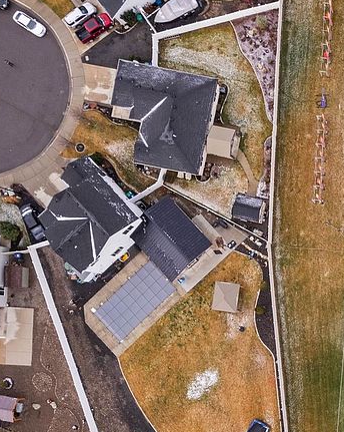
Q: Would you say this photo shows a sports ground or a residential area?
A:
residential area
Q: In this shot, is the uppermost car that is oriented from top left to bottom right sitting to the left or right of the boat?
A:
on the left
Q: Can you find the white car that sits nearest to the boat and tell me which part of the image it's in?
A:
top left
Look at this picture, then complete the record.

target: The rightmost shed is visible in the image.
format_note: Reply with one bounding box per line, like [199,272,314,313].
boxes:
[231,193,267,224]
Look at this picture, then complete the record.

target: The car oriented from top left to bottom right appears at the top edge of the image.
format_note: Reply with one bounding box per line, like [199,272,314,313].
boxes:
[9,7,43,35]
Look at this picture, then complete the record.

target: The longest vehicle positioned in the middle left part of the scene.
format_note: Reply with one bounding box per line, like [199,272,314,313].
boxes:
[17,204,46,242]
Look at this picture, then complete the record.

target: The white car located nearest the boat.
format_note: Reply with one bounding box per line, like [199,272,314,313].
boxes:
[62,1,97,26]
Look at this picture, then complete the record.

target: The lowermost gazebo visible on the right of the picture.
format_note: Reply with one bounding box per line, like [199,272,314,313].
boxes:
[212,282,244,313]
